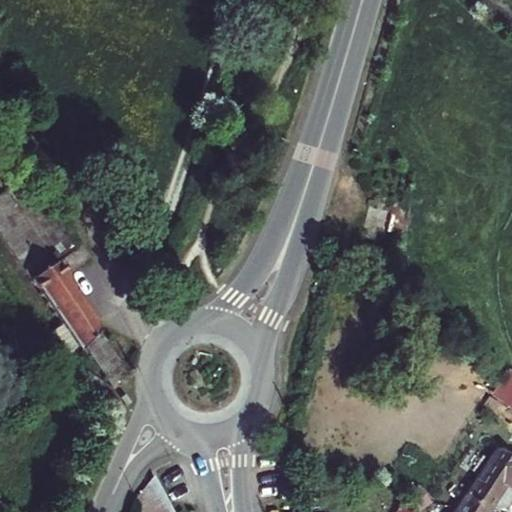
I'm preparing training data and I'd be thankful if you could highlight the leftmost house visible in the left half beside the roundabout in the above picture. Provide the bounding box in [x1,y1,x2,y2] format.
[35,256,104,348]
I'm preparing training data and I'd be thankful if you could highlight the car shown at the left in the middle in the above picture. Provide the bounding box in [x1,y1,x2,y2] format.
[74,270,93,296]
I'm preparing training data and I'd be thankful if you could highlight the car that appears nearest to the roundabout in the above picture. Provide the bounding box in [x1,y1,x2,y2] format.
[192,452,208,477]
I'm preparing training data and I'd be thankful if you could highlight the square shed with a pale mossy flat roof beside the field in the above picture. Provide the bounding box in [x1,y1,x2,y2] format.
[365,206,388,228]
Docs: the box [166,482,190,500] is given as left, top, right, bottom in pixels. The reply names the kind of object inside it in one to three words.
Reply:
car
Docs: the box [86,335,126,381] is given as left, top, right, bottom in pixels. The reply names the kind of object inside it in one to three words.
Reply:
shed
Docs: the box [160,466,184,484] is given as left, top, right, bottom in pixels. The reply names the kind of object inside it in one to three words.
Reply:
car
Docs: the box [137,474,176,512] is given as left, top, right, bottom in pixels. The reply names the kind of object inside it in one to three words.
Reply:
building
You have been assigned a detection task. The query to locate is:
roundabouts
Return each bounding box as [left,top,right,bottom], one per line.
[136,306,276,452]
